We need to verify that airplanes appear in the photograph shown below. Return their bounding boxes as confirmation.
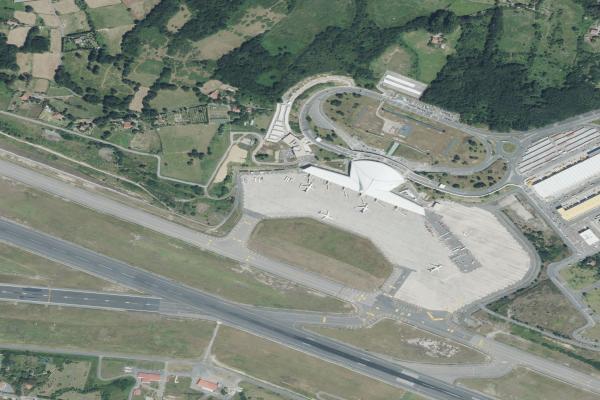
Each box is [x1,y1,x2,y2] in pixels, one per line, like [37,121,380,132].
[360,204,369,214]
[321,210,333,221]
[304,183,313,193]
[431,264,442,275]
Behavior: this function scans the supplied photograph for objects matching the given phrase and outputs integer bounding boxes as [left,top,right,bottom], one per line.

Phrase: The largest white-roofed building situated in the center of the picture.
[303,159,425,216]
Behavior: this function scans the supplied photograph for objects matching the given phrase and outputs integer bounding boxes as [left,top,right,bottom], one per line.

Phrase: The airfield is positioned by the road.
[0,159,600,400]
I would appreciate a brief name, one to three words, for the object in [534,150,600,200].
hangar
